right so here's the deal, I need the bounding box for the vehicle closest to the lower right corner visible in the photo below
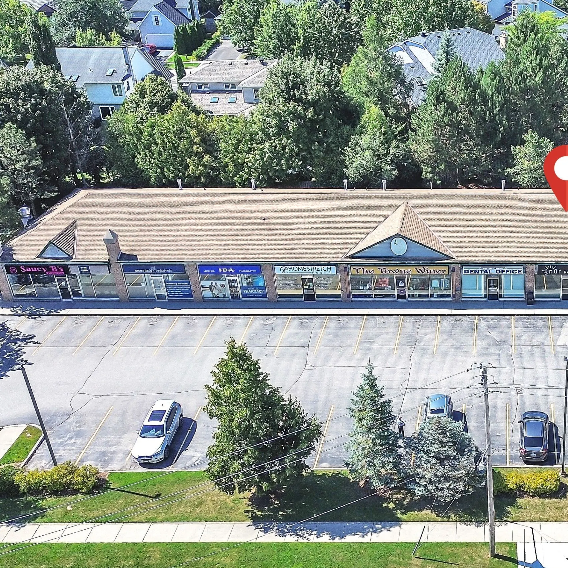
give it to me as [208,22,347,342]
[513,402,551,454]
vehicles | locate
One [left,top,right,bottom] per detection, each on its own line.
[137,388,195,455]
[513,402,551,454]
[421,393,460,427]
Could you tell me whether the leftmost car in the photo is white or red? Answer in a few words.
white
